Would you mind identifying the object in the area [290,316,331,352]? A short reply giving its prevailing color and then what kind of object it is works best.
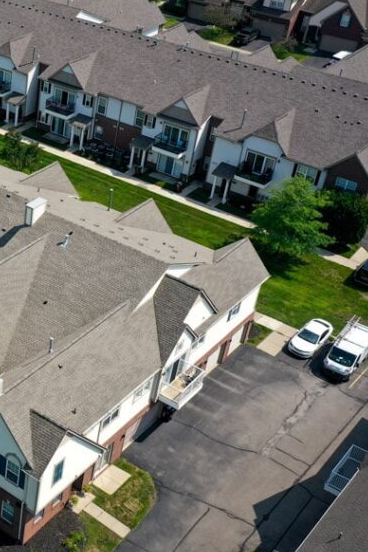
white car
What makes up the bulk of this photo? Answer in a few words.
buildings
